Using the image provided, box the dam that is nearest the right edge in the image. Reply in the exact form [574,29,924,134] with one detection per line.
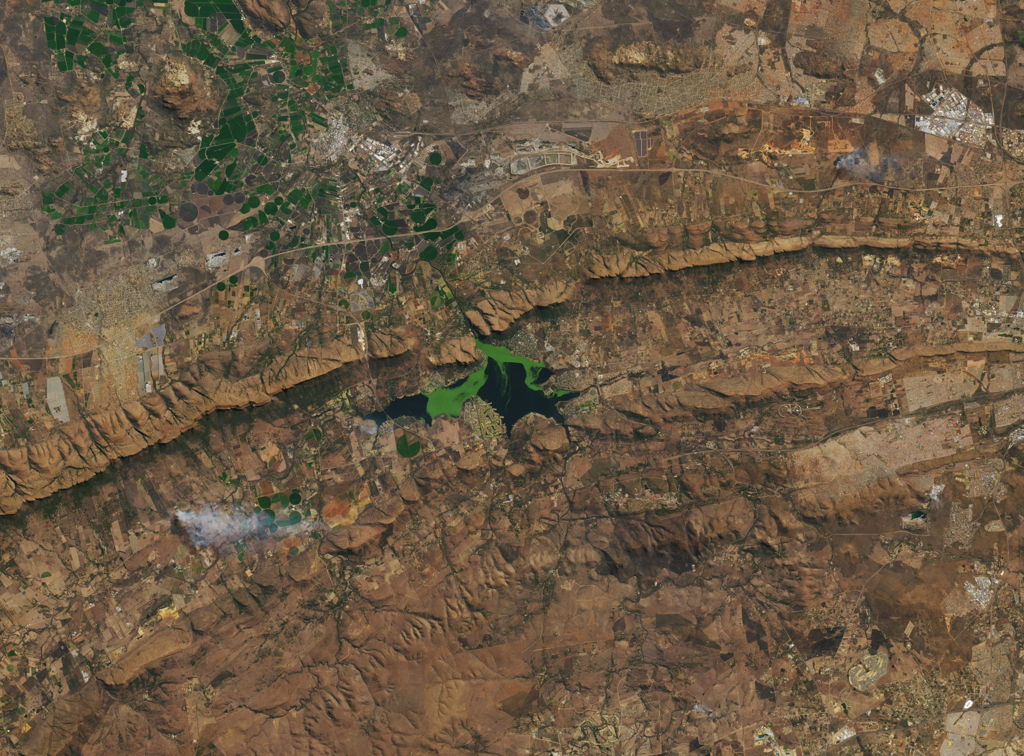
[544,3,570,27]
